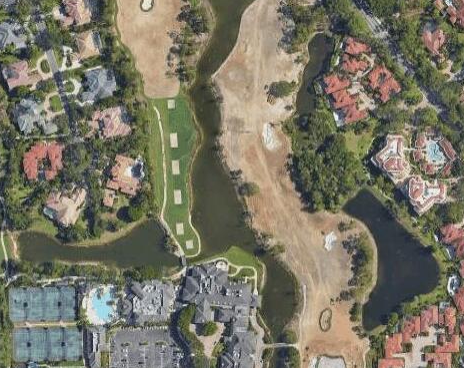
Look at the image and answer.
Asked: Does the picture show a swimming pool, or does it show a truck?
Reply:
swimming pool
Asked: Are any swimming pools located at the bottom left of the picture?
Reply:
Yes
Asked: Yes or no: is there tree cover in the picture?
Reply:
Yes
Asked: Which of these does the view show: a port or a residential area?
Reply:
residential area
